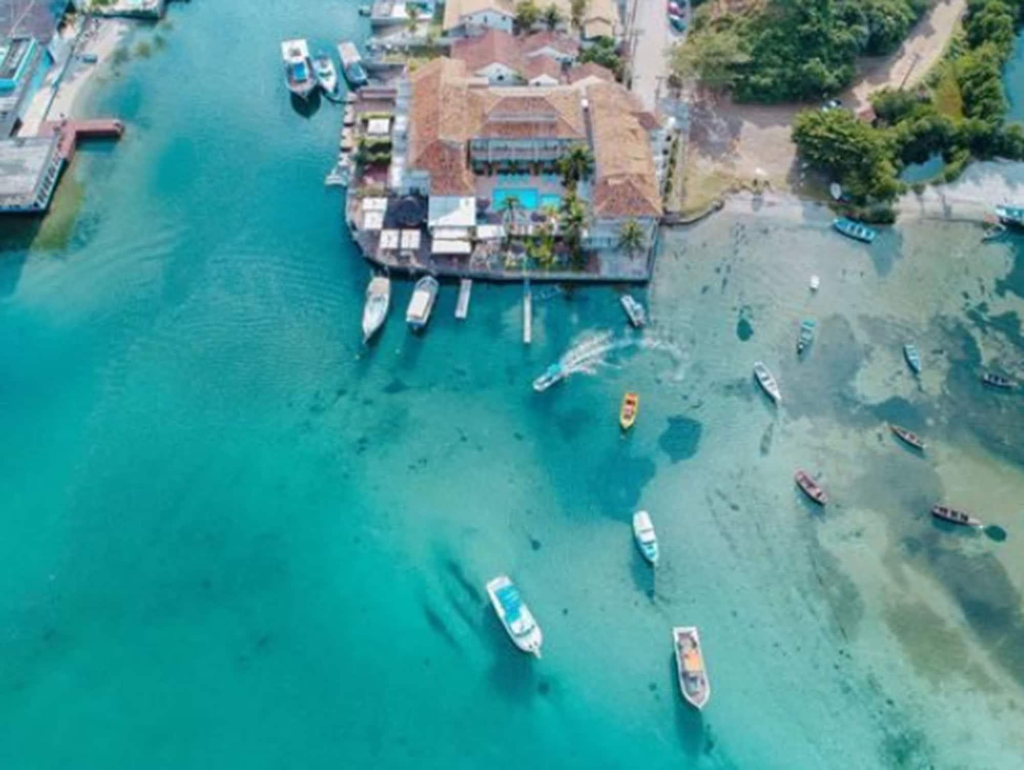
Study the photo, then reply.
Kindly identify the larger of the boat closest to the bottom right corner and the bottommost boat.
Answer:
the bottommost boat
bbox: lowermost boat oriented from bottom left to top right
[534,360,571,390]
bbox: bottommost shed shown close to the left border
[0,135,74,225]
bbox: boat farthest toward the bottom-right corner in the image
[929,502,989,531]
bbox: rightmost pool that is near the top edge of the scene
[407,2,432,20]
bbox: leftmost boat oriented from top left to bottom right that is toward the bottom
[483,579,541,660]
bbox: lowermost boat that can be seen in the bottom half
[672,627,710,708]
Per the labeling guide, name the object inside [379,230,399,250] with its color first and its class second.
white umbrella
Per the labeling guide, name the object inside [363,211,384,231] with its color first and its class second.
white umbrella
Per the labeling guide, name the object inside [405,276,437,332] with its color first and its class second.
white boat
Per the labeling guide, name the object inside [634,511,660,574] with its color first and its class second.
white boat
